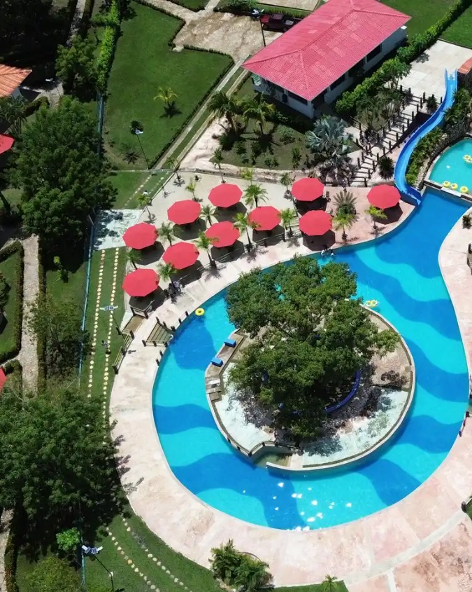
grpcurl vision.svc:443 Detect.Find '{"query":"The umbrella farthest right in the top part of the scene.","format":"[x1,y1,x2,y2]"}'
[367,185,401,210]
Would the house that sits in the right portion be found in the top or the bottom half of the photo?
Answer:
top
